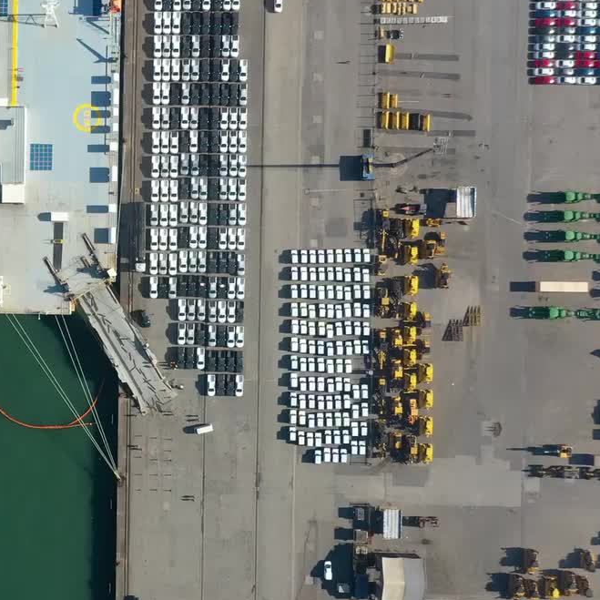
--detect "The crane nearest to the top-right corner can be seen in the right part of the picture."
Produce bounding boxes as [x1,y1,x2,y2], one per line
[354,155,413,180]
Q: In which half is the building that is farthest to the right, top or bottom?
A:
bottom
